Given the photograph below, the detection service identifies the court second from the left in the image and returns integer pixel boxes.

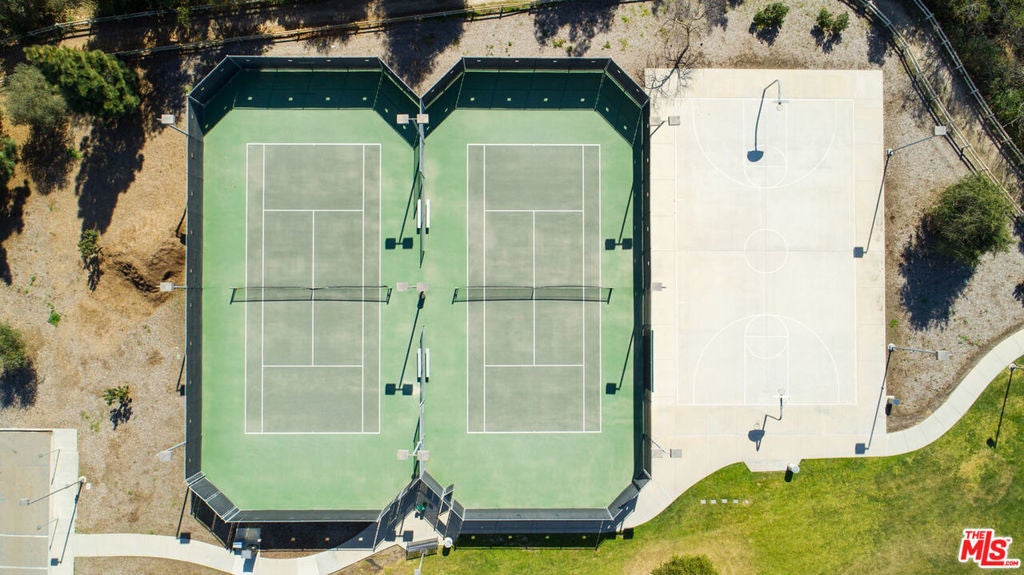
[425,69,644,509]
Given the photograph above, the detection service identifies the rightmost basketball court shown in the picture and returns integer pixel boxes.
[615,69,1024,529]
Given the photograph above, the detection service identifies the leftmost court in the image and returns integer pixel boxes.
[202,67,425,510]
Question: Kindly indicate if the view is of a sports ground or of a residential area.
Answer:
sports ground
